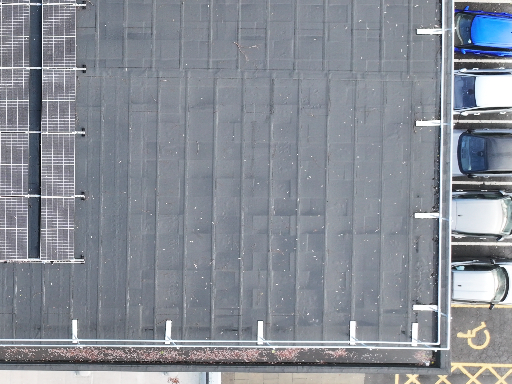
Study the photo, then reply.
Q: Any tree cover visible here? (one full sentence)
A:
No, the scene doesn't show any tree cover.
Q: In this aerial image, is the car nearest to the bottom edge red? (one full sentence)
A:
No, from above the car nearest to the bottom edge looks white.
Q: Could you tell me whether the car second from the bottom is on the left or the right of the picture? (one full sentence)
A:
The car second from the bottom sits on the right side.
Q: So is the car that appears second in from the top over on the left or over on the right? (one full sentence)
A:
You can find the car that appears second in from the top on the right side of the picture.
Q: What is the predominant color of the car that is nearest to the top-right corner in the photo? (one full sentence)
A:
From above, the car that is nearest to the top-right corner appears blue.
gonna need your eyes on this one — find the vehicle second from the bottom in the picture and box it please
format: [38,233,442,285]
[453,186,512,246]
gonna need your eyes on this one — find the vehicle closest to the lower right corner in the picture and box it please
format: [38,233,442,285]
[452,256,512,312]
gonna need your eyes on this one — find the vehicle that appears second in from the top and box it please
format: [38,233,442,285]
[454,62,512,121]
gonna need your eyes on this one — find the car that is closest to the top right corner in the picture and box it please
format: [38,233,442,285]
[455,0,512,58]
